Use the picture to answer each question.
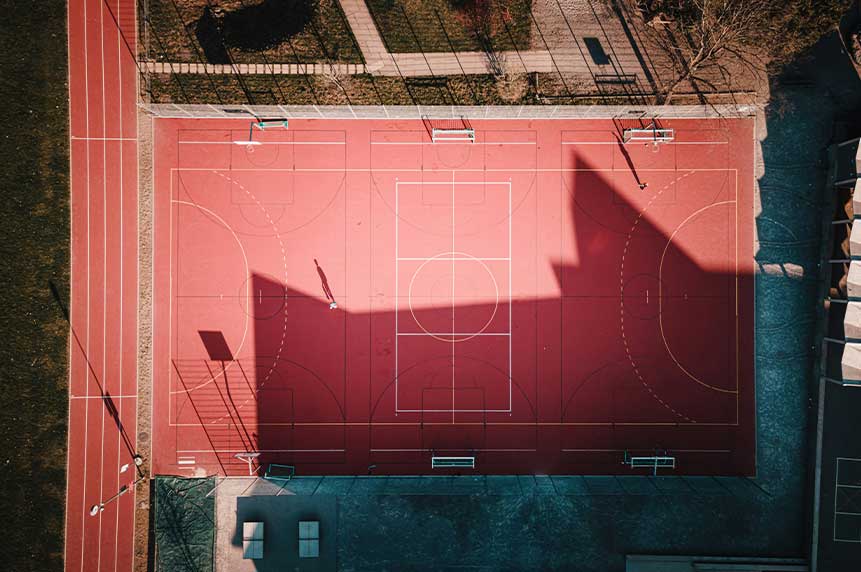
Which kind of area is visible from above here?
sports ground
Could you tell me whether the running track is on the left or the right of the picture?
left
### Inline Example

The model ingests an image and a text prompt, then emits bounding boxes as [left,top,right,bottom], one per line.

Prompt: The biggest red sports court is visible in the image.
[151,114,758,479]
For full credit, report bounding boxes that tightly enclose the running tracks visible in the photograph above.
[64,0,140,572]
